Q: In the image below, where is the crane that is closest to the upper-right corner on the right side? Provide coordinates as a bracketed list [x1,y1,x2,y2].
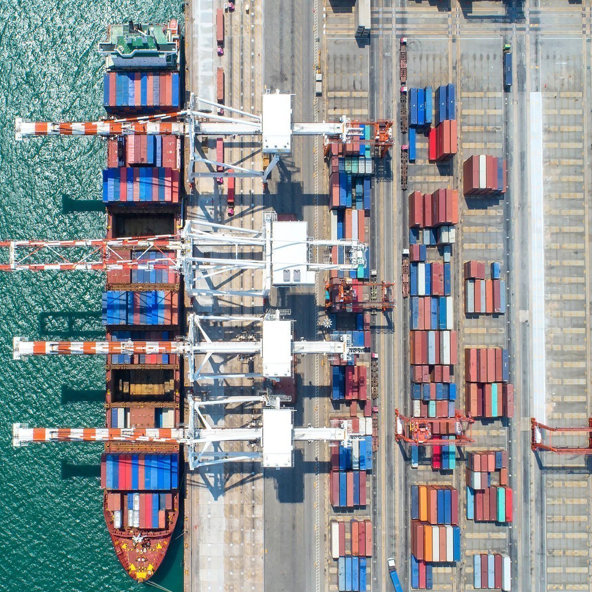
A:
[323,120,395,162]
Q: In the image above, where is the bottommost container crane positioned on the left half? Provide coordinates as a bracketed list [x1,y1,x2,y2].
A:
[11,384,366,472]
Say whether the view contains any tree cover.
No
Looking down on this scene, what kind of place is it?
port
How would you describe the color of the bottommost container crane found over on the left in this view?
white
